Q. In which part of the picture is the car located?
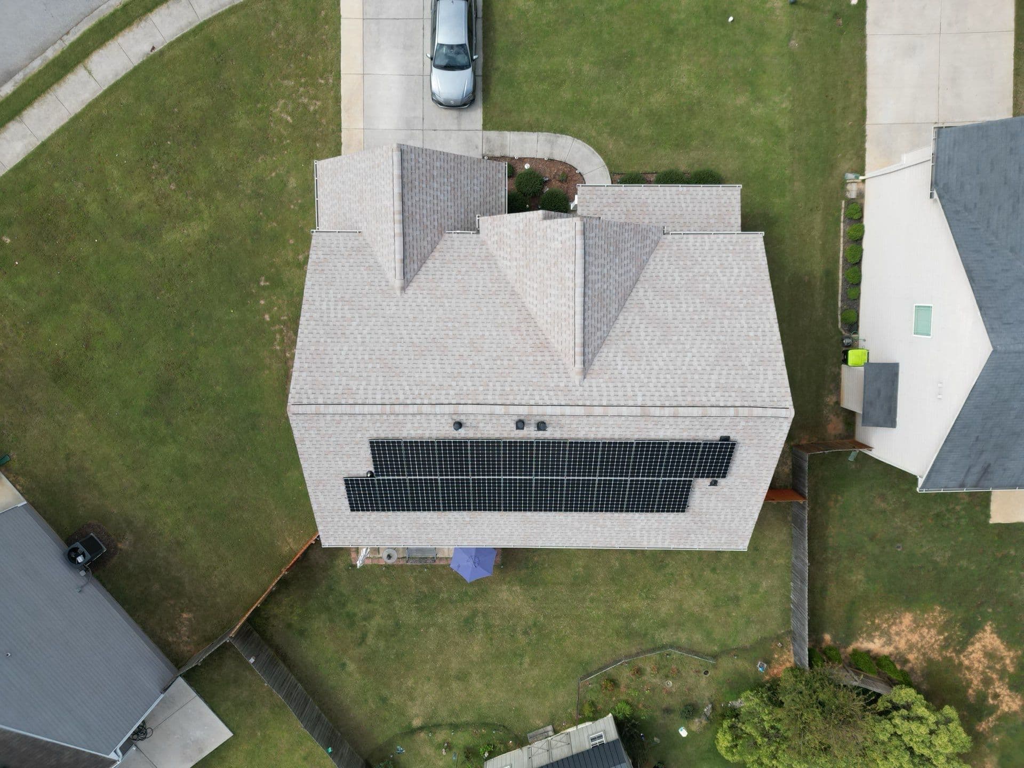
top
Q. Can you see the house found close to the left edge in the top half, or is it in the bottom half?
bottom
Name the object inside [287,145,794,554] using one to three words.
house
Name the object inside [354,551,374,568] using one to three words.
umbrella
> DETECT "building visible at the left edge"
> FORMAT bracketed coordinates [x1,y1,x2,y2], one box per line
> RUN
[0,502,182,768]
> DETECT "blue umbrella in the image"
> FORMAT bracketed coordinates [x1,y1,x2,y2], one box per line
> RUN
[451,552,497,582]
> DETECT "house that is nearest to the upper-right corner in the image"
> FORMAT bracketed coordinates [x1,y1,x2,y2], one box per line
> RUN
[840,116,1024,494]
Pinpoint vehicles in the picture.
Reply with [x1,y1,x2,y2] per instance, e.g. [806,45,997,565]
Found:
[424,0,481,112]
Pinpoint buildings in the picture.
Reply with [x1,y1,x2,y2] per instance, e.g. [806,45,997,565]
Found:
[476,714,631,768]
[287,145,794,554]
[840,116,1024,494]
[0,502,182,768]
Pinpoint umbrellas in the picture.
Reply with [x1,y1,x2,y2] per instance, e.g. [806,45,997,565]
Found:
[354,551,374,568]
[451,552,497,582]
